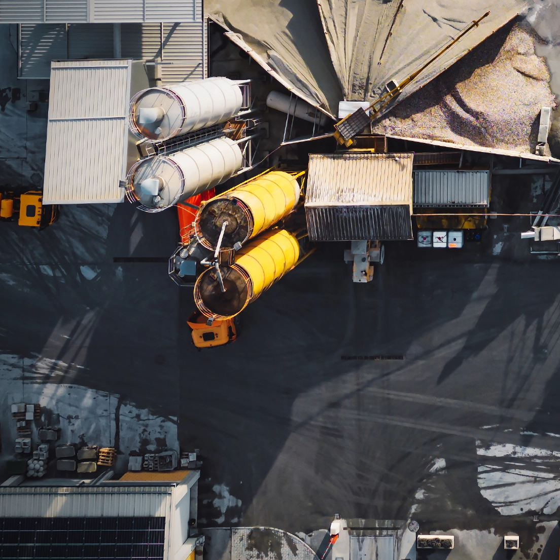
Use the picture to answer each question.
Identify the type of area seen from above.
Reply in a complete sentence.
What you see here is an industrial area.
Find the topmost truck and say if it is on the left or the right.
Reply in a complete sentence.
The topmost truck appears in the left half of the scene.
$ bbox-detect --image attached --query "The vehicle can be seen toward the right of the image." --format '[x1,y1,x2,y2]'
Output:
[342,241,382,288]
